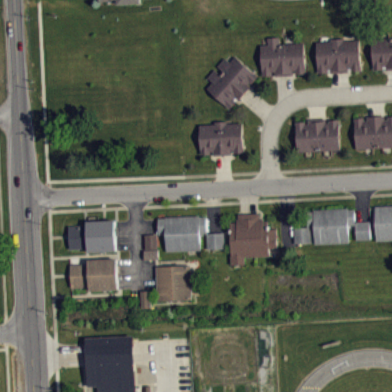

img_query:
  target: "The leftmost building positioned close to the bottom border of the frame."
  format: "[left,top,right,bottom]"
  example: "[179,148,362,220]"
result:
[84,338,138,392]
